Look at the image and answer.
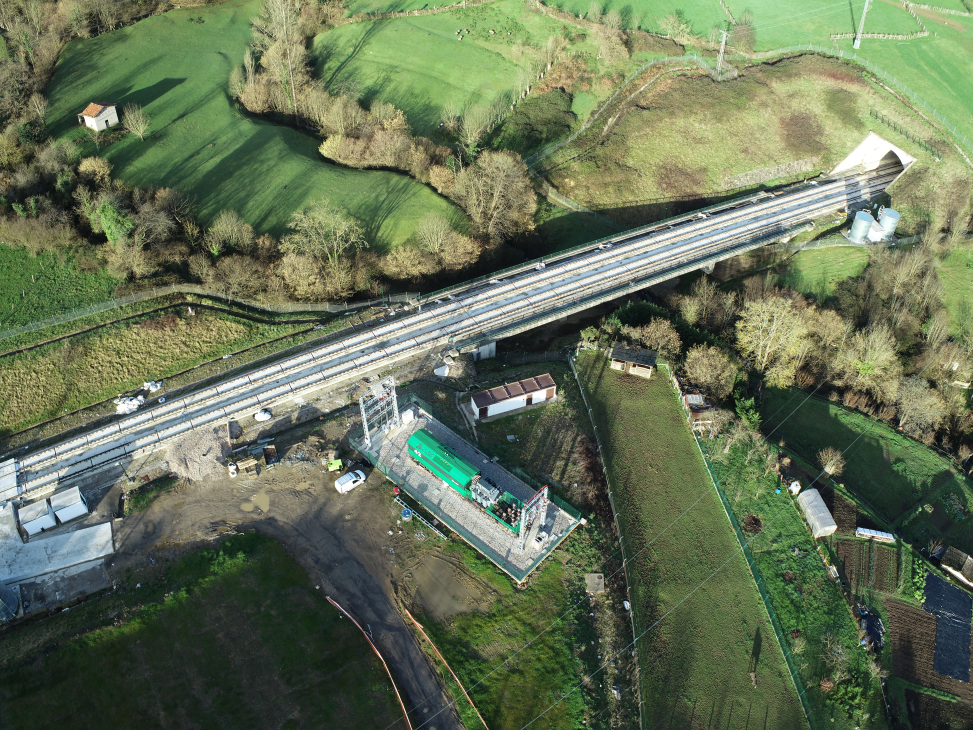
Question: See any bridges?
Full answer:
Yes, the picture does show a bridge.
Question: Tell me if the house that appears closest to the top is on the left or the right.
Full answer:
The house that appears closest to the top appears in the left half of the scene.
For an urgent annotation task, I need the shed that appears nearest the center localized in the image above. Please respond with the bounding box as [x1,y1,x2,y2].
[470,370,562,417]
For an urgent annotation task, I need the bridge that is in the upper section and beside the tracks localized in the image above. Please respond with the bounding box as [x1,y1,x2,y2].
[401,192,809,361]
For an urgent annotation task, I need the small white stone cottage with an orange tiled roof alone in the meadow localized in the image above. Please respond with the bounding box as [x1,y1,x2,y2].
[69,94,119,131]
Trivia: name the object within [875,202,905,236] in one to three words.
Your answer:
storage tank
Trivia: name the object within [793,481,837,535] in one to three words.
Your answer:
greenhouse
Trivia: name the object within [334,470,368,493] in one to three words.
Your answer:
vehicle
